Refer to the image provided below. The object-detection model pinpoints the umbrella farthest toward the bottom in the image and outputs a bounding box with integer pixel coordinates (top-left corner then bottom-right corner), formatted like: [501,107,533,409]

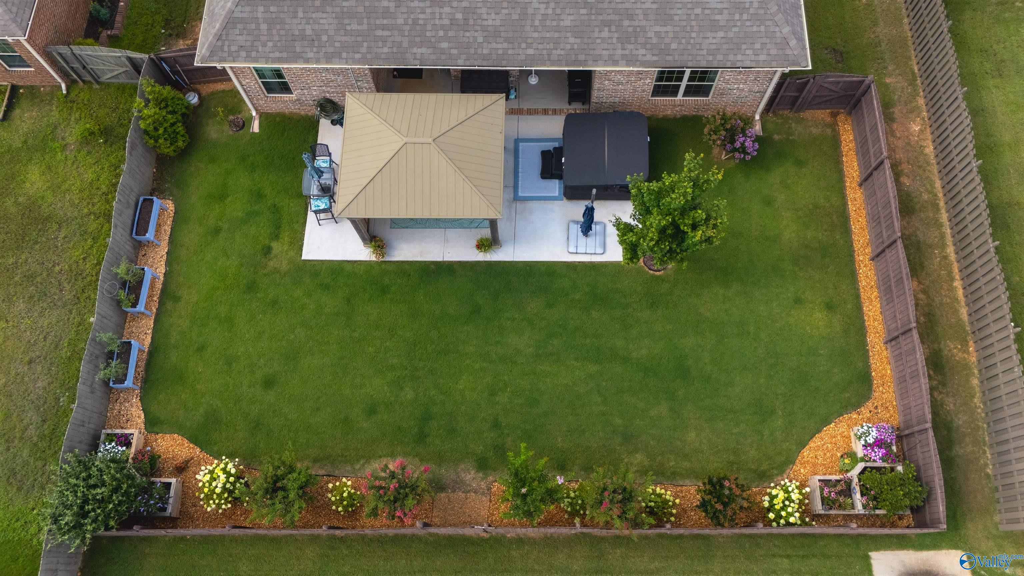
[568,187,606,253]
